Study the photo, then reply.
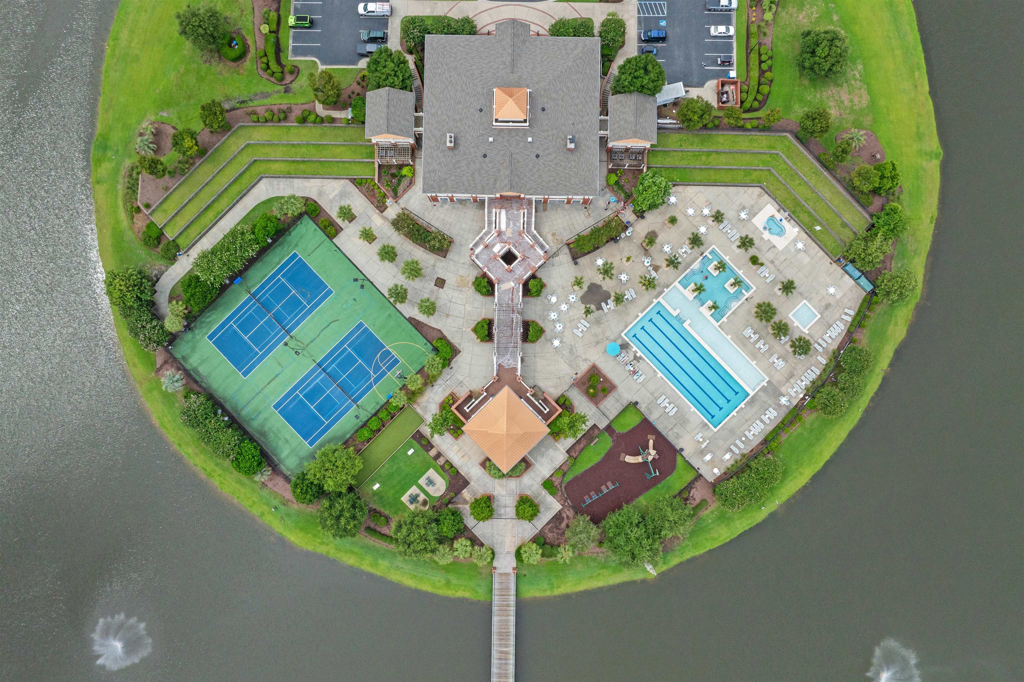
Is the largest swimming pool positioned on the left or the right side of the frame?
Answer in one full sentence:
The largest swimming pool appears in the right half of the scene.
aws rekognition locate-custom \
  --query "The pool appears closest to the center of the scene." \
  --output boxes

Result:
[622,245,769,432]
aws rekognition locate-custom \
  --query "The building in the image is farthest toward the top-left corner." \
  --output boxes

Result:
[365,88,417,148]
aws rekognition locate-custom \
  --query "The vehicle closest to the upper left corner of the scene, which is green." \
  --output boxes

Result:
[288,14,314,29]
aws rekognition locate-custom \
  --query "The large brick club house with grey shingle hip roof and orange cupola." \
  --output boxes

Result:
[422,20,601,205]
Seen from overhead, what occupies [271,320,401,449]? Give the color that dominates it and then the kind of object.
blue tennis court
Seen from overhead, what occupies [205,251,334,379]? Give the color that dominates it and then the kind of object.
blue tennis court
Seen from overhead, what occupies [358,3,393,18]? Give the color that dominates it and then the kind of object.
white vehicle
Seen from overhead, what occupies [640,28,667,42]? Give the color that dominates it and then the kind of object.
blue car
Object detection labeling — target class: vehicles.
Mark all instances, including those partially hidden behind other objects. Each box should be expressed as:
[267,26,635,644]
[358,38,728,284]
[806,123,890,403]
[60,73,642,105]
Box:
[358,3,393,18]
[718,54,734,65]
[357,43,388,56]
[288,14,314,29]
[640,28,667,42]
[642,44,657,54]
[360,29,388,44]
[709,24,735,37]
[705,0,738,13]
